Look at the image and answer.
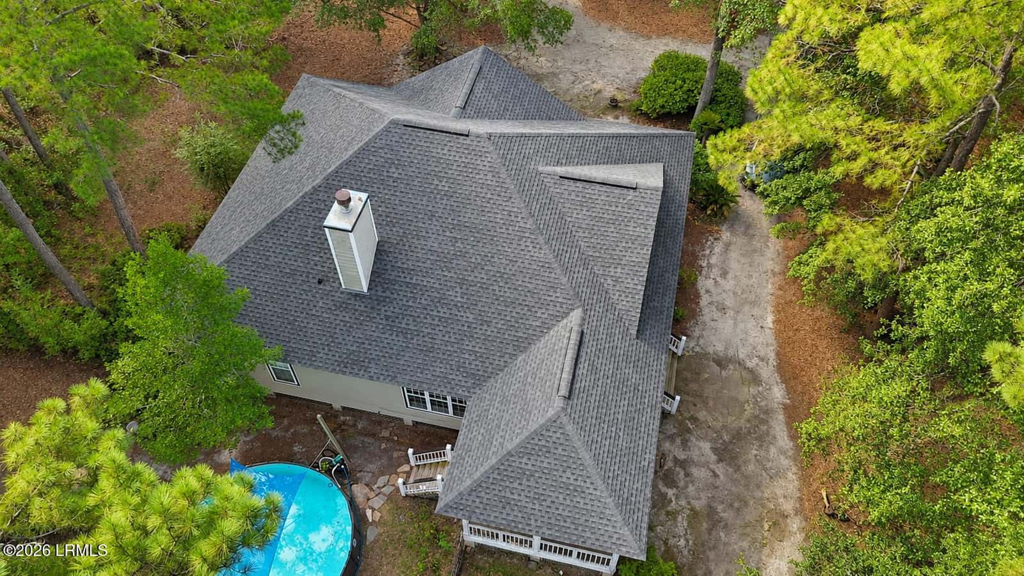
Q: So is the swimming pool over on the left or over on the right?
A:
left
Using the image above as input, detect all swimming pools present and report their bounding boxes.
[151,460,363,576]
